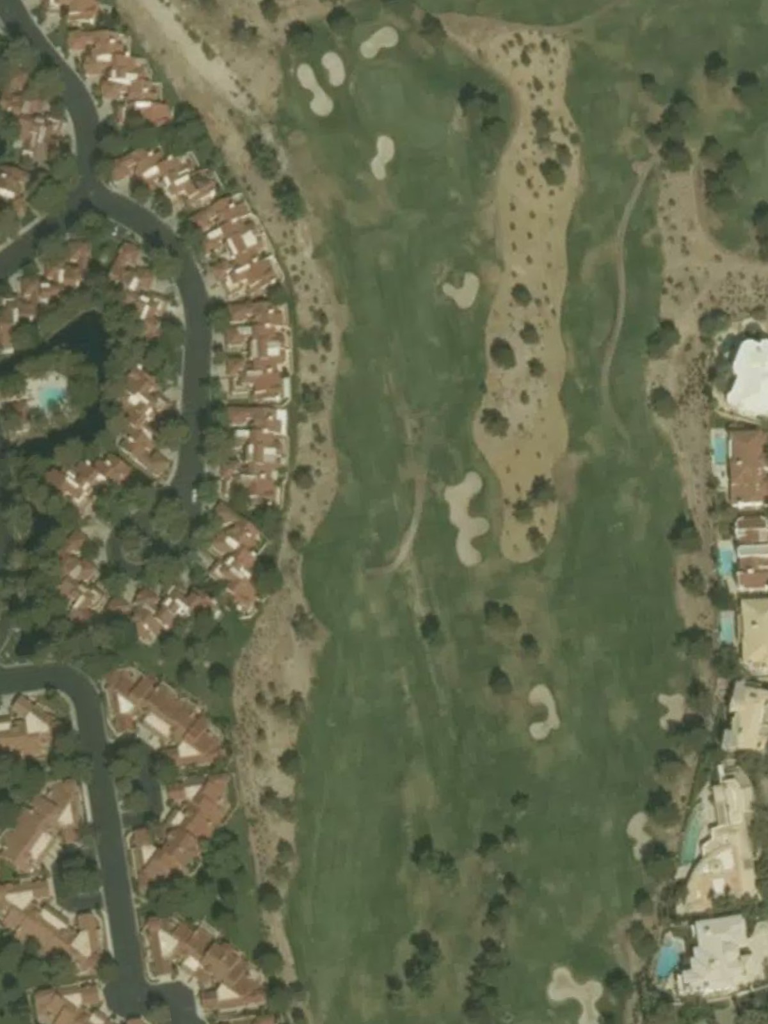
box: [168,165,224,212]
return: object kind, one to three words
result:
house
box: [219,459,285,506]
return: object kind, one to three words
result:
house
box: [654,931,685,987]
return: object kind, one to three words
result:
swimming pool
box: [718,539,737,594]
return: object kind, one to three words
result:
swimming pool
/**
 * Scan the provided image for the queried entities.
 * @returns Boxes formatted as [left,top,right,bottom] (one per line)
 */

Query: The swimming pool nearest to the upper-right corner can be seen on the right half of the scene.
[711,428,728,491]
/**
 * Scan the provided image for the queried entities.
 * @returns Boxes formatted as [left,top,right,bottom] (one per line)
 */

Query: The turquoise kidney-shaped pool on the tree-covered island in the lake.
[26,372,69,430]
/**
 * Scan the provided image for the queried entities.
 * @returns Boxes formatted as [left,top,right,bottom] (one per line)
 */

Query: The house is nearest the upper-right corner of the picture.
[710,318,768,422]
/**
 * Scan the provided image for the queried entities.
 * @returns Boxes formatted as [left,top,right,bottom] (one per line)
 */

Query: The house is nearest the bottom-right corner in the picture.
[671,915,768,1022]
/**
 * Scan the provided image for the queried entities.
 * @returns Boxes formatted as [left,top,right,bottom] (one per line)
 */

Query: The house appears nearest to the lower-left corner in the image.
[28,980,107,1024]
